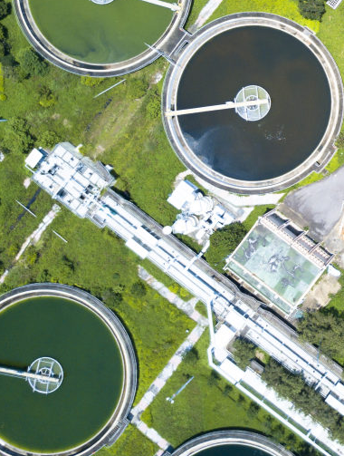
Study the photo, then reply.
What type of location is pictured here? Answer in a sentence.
This image shows an industrial area.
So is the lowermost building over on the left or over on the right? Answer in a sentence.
You can find the lowermost building on the right side of the picture.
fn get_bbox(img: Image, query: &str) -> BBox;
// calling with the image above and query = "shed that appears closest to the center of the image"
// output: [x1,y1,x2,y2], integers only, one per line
[167,179,202,209]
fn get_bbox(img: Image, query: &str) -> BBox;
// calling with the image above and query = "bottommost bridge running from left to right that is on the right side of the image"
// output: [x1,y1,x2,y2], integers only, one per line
[160,98,266,120]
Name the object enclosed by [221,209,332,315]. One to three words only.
building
